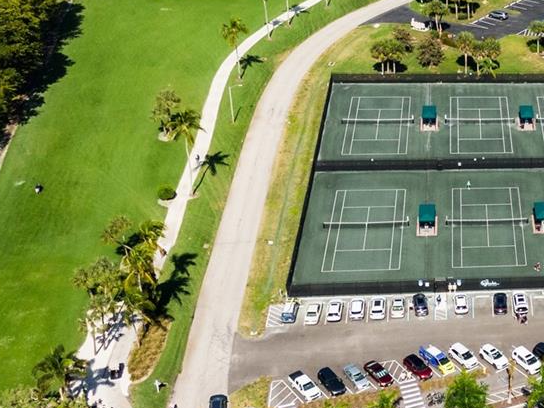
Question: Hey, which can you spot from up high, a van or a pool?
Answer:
van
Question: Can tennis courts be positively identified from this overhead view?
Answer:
Yes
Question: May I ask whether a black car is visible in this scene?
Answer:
Yes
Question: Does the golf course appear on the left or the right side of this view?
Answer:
left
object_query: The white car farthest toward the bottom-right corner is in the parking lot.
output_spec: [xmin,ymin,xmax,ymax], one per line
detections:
[512,345,543,374]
